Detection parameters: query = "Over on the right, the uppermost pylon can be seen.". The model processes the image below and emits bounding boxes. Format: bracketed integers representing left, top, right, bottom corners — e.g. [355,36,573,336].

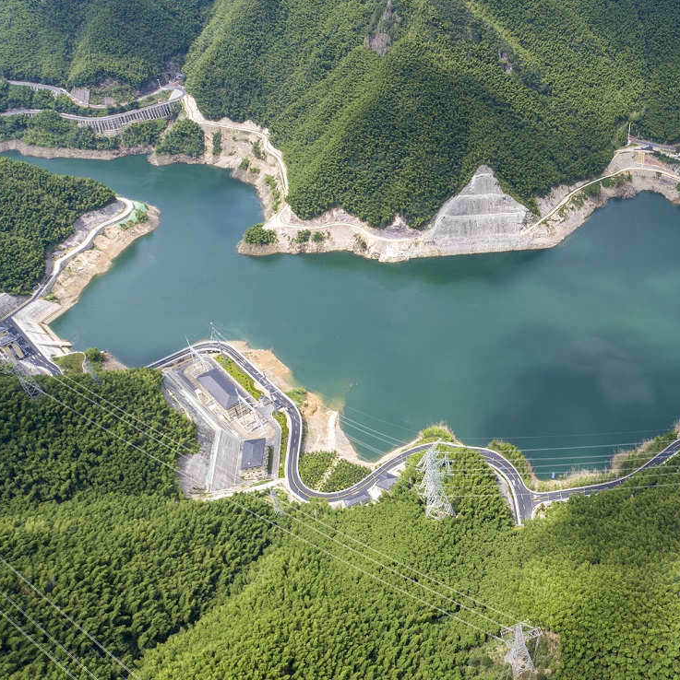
[417,448,455,516]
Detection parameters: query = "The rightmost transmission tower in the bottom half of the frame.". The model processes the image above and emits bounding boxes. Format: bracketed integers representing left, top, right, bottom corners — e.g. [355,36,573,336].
[496,626,541,677]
